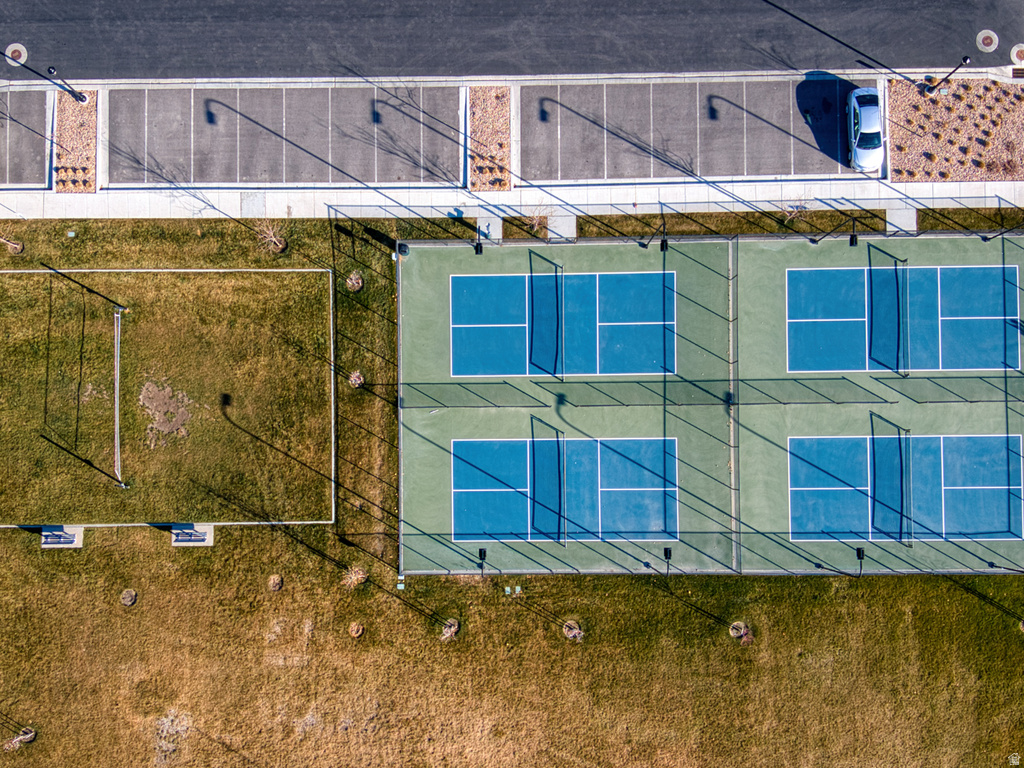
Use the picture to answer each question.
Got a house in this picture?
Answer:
No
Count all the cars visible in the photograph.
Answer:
1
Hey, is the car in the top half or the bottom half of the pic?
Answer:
top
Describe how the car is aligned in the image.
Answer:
from top to bottom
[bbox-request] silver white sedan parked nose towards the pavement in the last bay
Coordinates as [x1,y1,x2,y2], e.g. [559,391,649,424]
[847,88,890,172]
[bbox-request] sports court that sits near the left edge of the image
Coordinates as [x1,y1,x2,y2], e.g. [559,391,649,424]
[0,267,334,527]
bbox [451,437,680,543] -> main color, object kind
blue sports court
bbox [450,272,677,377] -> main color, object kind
blue sports court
